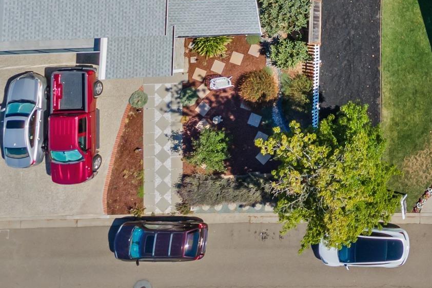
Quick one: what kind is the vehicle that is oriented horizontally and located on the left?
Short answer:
car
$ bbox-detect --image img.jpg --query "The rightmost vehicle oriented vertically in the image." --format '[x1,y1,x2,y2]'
[45,65,106,181]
